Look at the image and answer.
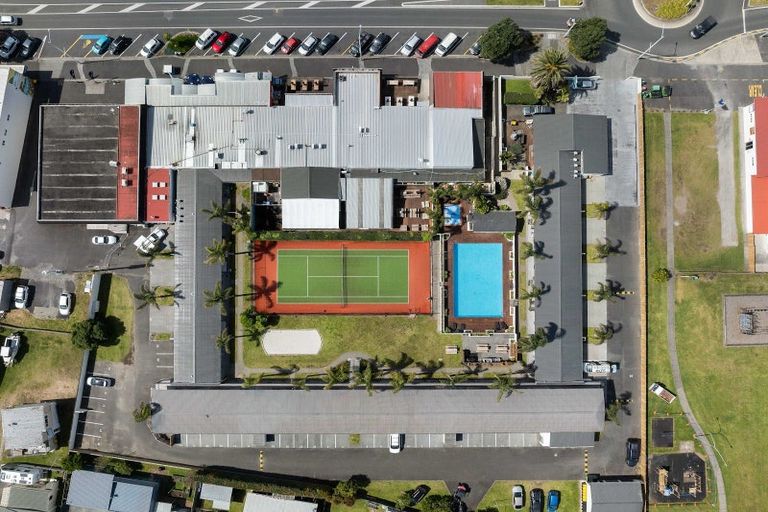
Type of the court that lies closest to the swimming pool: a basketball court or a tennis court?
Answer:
tennis court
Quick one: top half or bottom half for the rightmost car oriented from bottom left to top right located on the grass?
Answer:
bottom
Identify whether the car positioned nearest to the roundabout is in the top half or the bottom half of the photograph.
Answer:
top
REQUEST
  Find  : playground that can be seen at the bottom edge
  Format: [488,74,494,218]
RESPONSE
[650,453,706,504]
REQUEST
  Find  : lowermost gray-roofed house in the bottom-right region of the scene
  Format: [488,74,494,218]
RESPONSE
[583,475,646,512]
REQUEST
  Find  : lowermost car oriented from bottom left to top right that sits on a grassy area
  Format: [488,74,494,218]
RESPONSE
[407,481,429,507]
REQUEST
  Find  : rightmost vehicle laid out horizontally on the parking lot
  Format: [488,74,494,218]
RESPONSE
[645,84,676,98]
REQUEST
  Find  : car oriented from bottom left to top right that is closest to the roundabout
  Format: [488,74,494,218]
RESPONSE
[688,14,719,40]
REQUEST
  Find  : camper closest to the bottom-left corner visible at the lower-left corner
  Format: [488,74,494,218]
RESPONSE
[1,463,46,483]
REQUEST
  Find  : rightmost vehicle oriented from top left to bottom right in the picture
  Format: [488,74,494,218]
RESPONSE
[646,381,679,406]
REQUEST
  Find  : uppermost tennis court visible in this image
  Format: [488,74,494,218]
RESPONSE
[254,241,430,314]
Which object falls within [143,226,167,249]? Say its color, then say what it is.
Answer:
white vehicle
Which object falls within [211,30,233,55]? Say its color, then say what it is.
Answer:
red car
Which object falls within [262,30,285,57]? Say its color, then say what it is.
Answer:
white car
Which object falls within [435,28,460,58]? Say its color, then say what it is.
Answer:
white vehicle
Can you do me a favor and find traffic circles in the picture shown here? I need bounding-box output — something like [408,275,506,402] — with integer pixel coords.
[633,0,703,28]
